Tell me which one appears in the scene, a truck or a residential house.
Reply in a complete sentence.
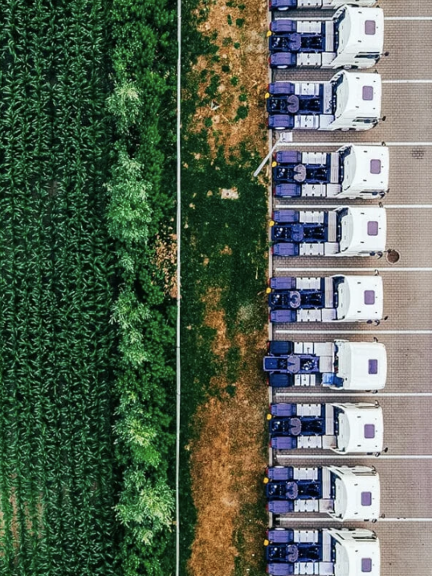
It is a truck that can be seen here.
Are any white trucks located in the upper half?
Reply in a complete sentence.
Yes, you'll find a white truck in the upper half.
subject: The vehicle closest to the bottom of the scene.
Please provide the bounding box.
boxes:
[262,525,379,576]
